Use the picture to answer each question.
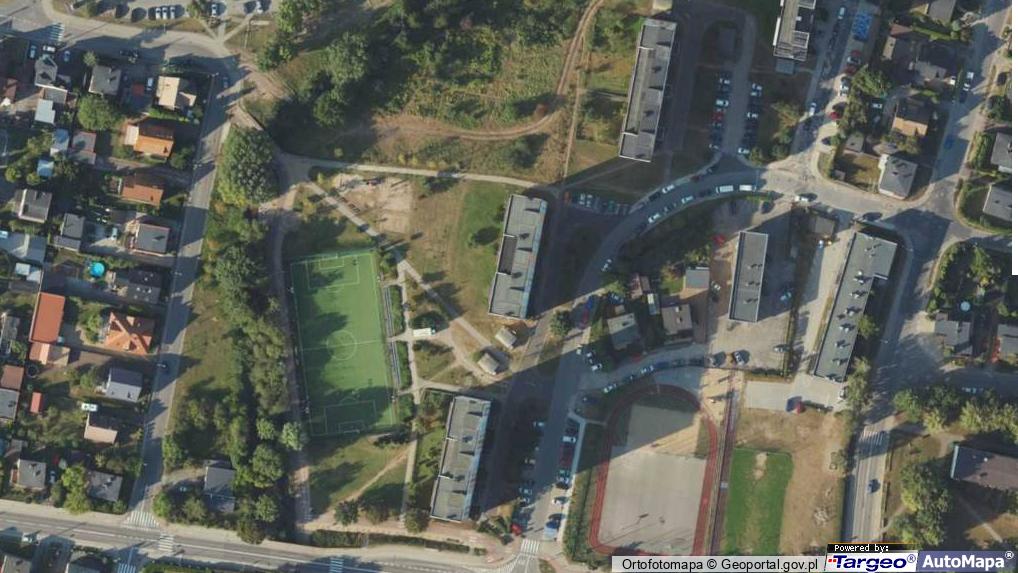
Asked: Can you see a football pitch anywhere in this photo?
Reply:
Yes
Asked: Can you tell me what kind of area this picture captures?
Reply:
residential area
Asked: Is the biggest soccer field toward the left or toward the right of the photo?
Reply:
left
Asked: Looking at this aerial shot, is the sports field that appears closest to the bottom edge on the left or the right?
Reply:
right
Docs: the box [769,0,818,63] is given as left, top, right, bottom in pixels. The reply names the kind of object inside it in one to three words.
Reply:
building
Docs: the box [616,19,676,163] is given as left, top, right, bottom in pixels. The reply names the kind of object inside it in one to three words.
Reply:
building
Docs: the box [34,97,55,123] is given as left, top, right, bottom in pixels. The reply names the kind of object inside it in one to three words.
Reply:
shed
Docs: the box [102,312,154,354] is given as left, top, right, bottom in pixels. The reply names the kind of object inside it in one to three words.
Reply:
house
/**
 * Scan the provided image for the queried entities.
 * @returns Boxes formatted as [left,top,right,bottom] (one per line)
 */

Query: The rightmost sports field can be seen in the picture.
[723,449,793,562]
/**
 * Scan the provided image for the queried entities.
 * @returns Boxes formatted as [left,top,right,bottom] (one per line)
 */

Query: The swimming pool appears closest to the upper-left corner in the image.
[89,261,105,277]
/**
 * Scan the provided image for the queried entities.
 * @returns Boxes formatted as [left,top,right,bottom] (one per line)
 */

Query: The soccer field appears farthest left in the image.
[290,250,395,437]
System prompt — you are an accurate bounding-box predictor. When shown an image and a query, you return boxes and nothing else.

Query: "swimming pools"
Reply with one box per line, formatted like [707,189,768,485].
[89,261,105,277]
[960,300,970,310]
